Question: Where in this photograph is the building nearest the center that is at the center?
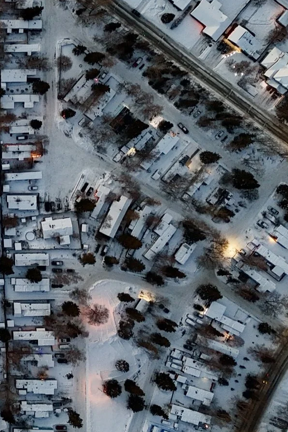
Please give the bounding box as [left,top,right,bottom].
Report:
[126,210,152,237]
